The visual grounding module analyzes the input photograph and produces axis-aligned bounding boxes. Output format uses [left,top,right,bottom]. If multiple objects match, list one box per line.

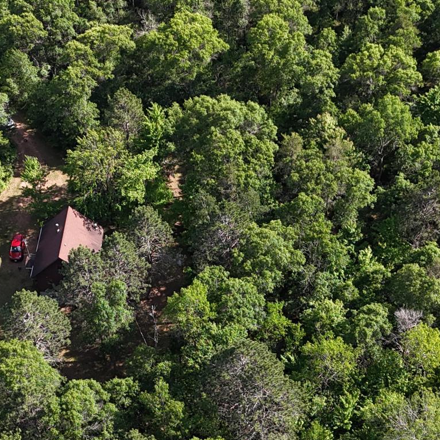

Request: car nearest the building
[8,235,25,261]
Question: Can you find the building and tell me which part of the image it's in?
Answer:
left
